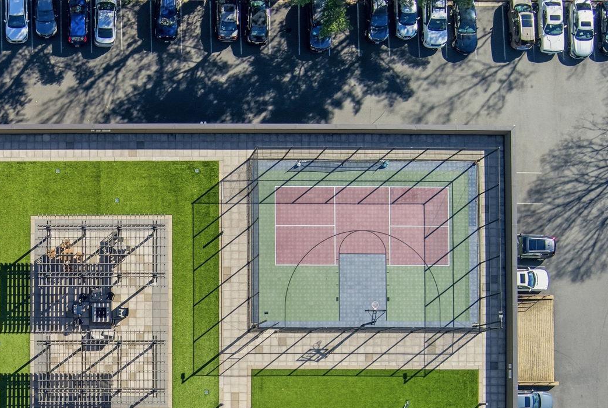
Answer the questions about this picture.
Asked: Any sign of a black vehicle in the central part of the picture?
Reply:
No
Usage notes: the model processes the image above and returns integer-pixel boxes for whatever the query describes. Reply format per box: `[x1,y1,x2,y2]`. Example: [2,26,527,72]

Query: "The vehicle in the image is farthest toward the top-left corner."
[2,0,30,44]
